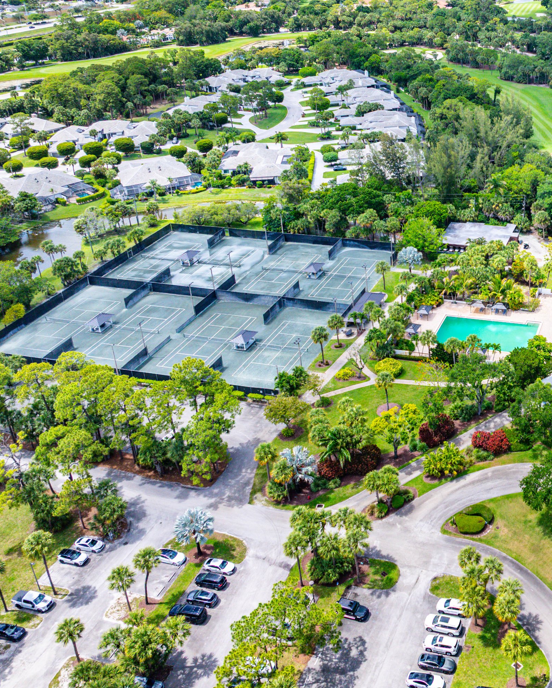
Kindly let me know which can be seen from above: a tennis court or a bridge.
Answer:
tennis court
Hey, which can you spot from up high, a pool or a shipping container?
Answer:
pool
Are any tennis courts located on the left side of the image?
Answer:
Yes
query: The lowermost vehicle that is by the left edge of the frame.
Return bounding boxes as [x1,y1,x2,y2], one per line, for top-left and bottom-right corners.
[0,623,27,642]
